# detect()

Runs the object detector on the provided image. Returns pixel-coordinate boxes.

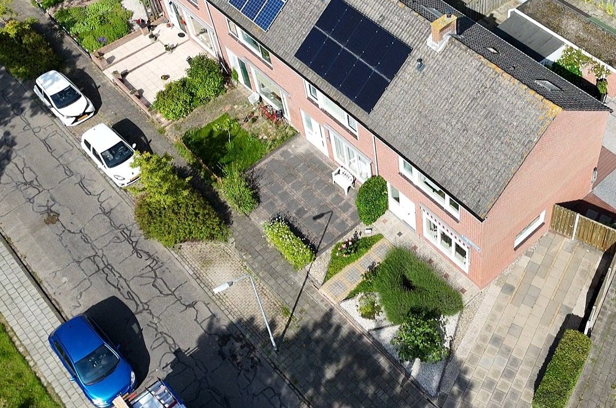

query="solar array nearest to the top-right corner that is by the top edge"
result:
[292,0,410,112]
